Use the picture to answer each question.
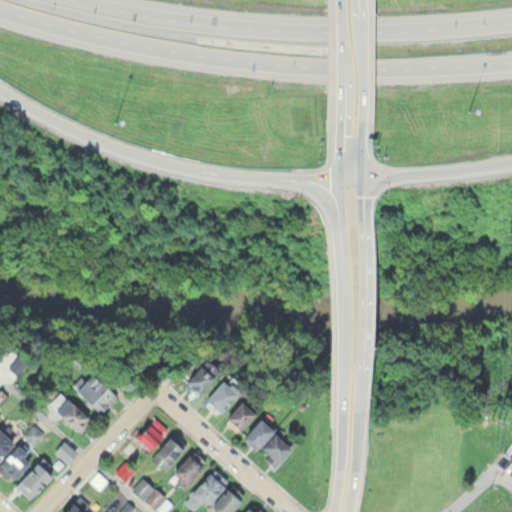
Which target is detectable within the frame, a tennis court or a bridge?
bridge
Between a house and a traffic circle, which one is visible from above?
house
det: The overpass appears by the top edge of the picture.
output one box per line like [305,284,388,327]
[327,0,376,100]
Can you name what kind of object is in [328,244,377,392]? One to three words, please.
bridge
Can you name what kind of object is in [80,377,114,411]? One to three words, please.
house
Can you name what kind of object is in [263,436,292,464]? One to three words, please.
house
